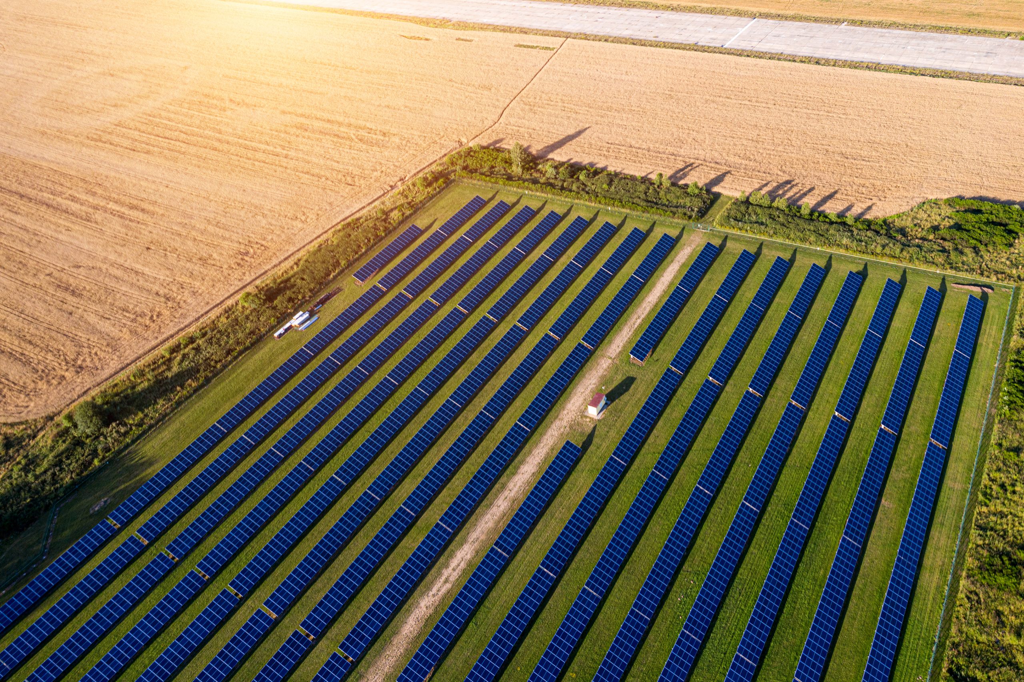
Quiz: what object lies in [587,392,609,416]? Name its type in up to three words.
shed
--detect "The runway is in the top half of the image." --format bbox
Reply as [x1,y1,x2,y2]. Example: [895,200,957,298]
[245,0,1024,77]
